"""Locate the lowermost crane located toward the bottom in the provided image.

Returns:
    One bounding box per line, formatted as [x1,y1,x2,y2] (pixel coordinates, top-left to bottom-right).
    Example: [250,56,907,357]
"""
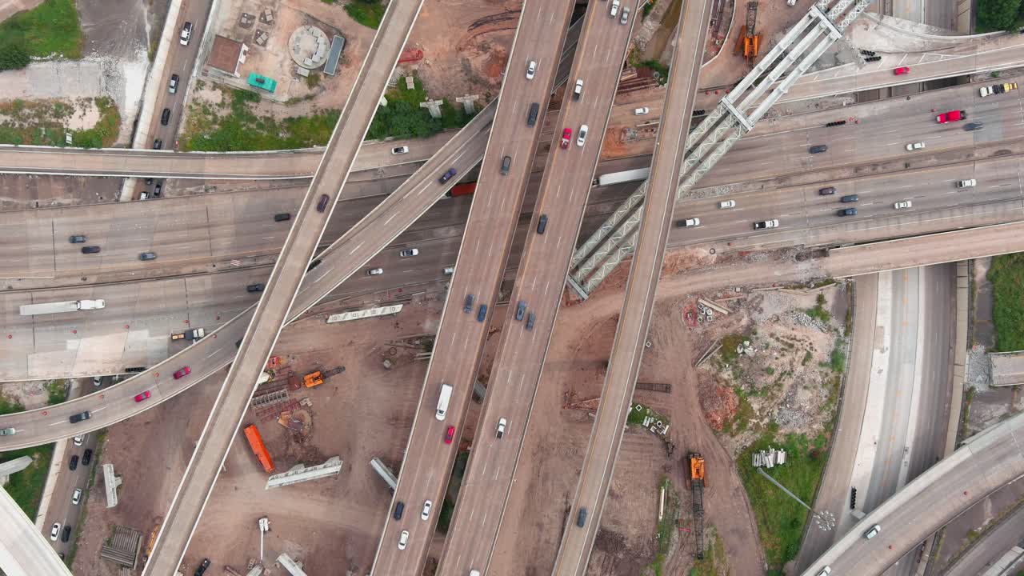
[686,449,705,559]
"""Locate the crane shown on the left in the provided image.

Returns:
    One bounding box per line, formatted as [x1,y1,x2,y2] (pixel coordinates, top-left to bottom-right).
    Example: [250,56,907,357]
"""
[300,368,348,390]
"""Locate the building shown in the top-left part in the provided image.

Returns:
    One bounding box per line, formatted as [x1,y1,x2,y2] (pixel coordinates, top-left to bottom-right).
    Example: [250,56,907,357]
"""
[207,35,252,79]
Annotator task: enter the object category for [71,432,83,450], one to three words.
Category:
vehicle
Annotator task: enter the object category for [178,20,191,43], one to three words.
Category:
vehicle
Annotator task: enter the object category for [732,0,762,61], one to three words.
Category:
crane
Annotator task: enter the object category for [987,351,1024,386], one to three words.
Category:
bridge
